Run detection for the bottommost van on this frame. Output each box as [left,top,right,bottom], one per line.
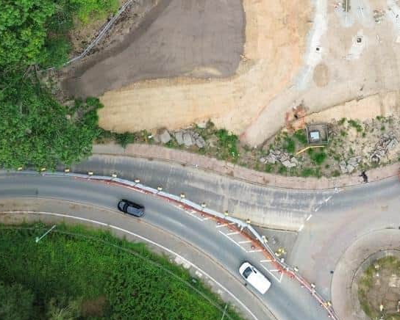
[238,263,272,299]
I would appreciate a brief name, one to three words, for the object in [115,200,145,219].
car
